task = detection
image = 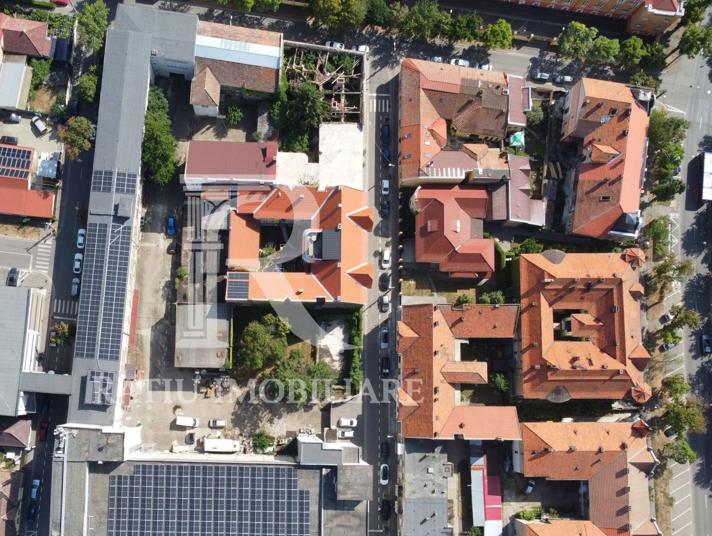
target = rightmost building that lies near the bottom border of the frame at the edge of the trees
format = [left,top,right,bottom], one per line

[512,418,663,536]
